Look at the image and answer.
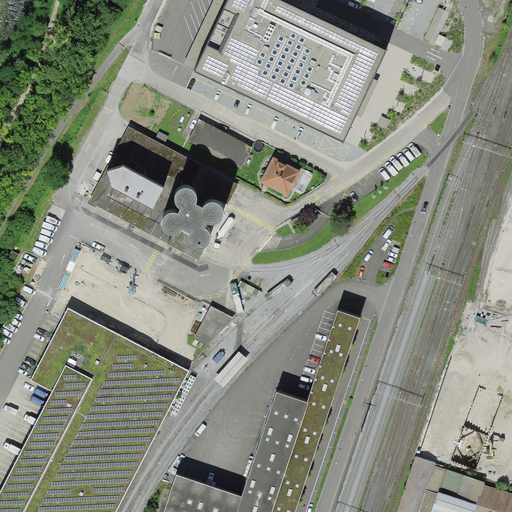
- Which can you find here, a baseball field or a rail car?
rail car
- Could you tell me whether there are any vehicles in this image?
Yes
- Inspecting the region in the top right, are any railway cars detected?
No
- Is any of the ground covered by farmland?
No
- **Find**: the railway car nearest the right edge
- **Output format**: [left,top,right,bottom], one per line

[314,272,338,296]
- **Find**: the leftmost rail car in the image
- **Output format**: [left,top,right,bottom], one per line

[263,278,294,302]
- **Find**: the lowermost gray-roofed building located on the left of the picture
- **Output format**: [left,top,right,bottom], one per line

[162,472,242,512]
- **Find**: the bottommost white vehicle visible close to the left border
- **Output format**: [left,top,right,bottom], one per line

[2,442,21,456]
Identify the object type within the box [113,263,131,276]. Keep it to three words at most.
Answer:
vehicle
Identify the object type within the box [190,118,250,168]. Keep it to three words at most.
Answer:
building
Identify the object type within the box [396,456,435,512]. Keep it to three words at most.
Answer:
shed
